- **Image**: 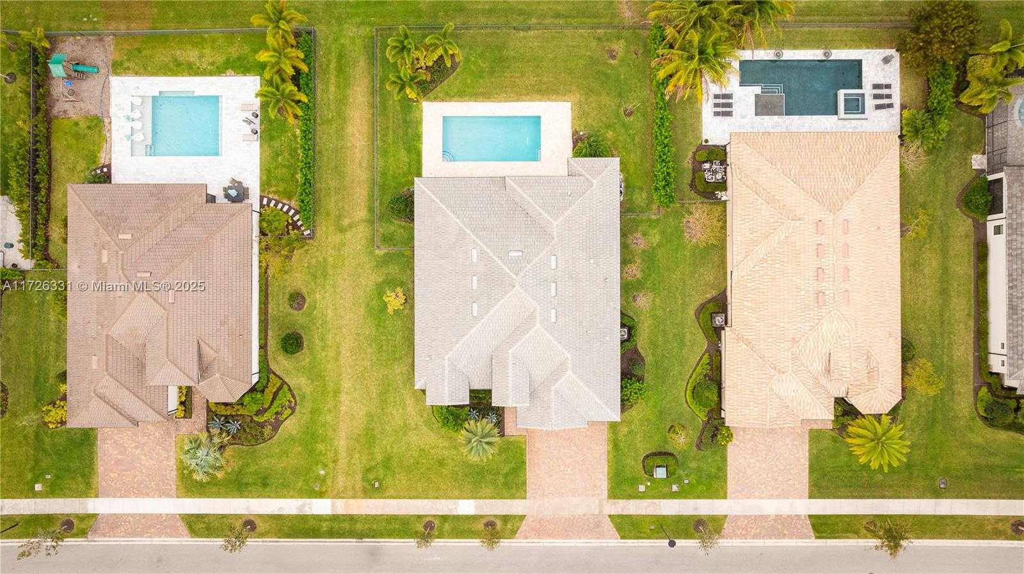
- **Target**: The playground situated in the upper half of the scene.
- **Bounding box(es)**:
[50,35,113,118]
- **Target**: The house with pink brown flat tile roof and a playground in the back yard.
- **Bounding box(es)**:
[66,183,259,428]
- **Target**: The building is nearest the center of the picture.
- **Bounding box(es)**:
[414,157,621,431]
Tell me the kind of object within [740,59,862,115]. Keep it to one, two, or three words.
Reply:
swimming pool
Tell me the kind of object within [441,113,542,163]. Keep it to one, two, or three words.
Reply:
swimming pool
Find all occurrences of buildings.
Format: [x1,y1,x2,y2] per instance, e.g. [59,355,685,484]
[720,131,902,431]
[414,157,621,431]
[66,183,259,428]
[986,166,1024,392]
